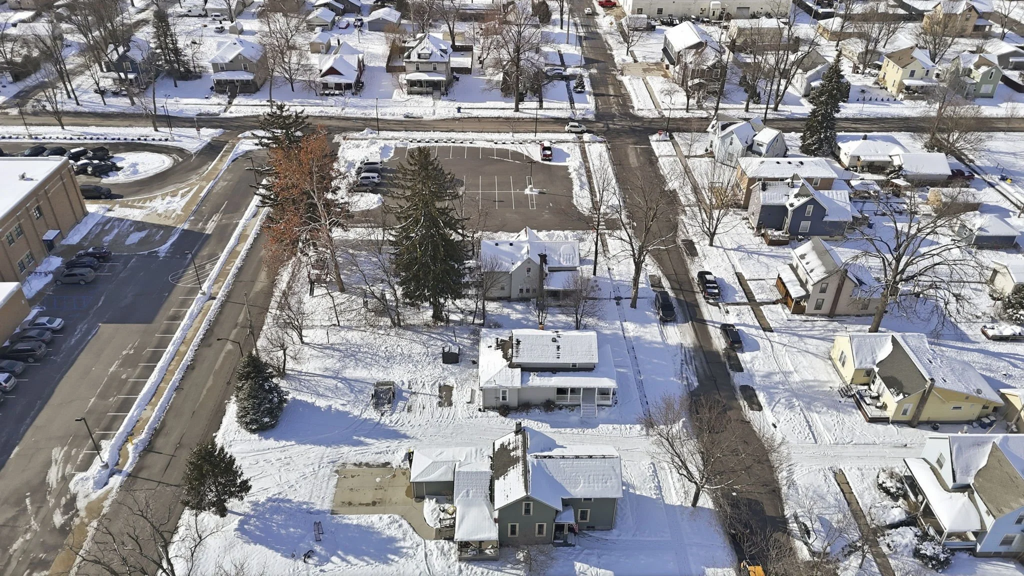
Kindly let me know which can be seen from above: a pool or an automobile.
automobile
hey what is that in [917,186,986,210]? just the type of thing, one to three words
shed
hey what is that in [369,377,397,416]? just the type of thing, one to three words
trailer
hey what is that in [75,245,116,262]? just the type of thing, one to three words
car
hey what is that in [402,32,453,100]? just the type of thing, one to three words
house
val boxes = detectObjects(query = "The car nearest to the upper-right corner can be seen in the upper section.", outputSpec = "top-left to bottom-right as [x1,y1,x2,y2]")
[947,166,982,182]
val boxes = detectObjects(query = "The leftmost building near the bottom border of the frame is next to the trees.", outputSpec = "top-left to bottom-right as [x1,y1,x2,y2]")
[405,418,623,558]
